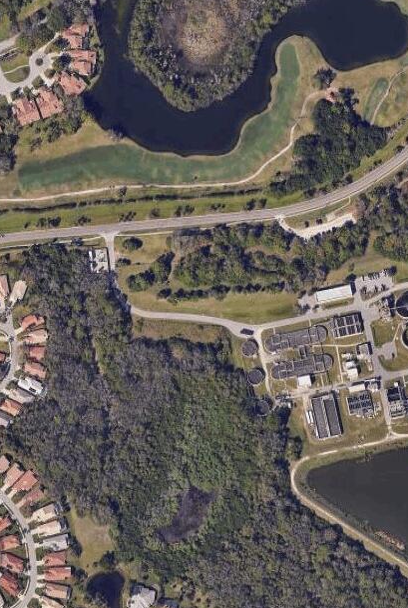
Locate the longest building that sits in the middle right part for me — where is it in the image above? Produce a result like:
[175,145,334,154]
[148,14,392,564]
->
[316,285,354,303]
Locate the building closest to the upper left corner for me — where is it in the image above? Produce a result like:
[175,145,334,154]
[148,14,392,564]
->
[62,21,91,51]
